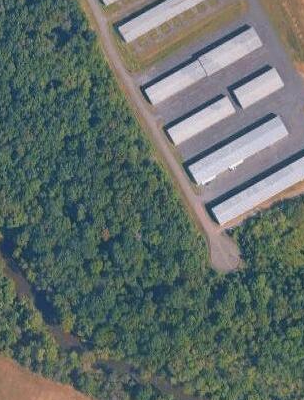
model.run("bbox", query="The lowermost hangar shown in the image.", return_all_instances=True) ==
[212,157,304,225]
